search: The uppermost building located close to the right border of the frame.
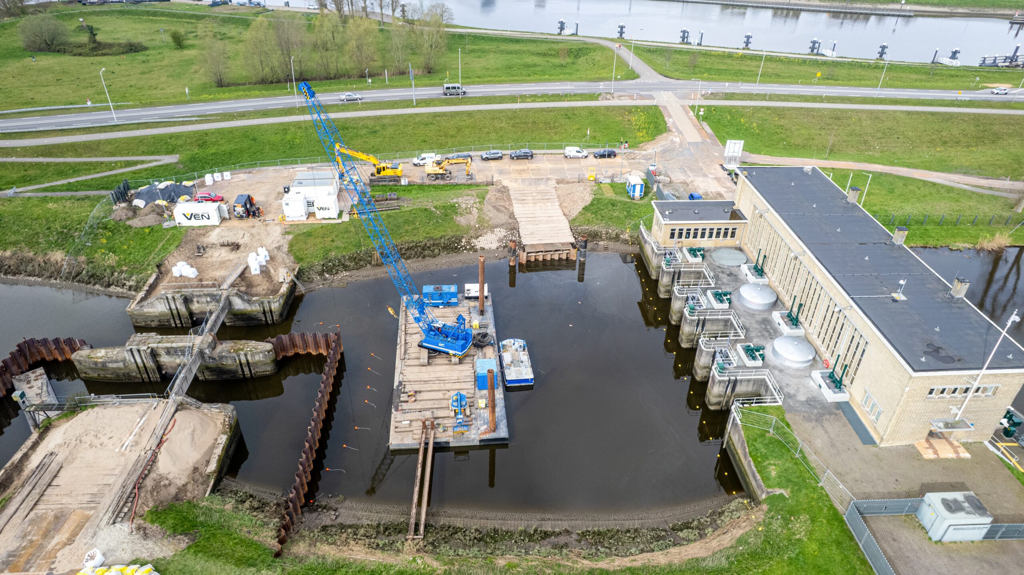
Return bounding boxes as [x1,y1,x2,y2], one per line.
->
[729,165,1024,446]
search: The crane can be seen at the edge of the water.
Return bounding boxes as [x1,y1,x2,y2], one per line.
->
[293,82,475,365]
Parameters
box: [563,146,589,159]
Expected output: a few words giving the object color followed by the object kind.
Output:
white vehicle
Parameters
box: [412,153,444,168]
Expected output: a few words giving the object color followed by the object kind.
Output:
white vehicle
